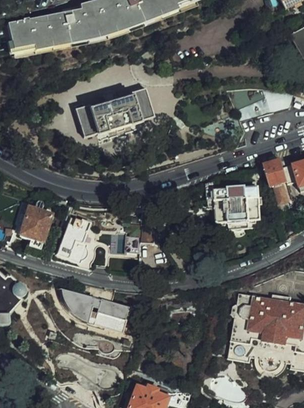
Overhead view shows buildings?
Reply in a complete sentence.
Yes, you can see a building in this photo.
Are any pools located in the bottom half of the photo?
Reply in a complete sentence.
Yes, a pool shows up in the bottom half of the photo.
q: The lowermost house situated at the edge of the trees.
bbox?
[127,382,190,408]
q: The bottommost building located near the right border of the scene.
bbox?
[228,294,304,379]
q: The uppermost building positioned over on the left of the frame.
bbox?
[10,0,200,58]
